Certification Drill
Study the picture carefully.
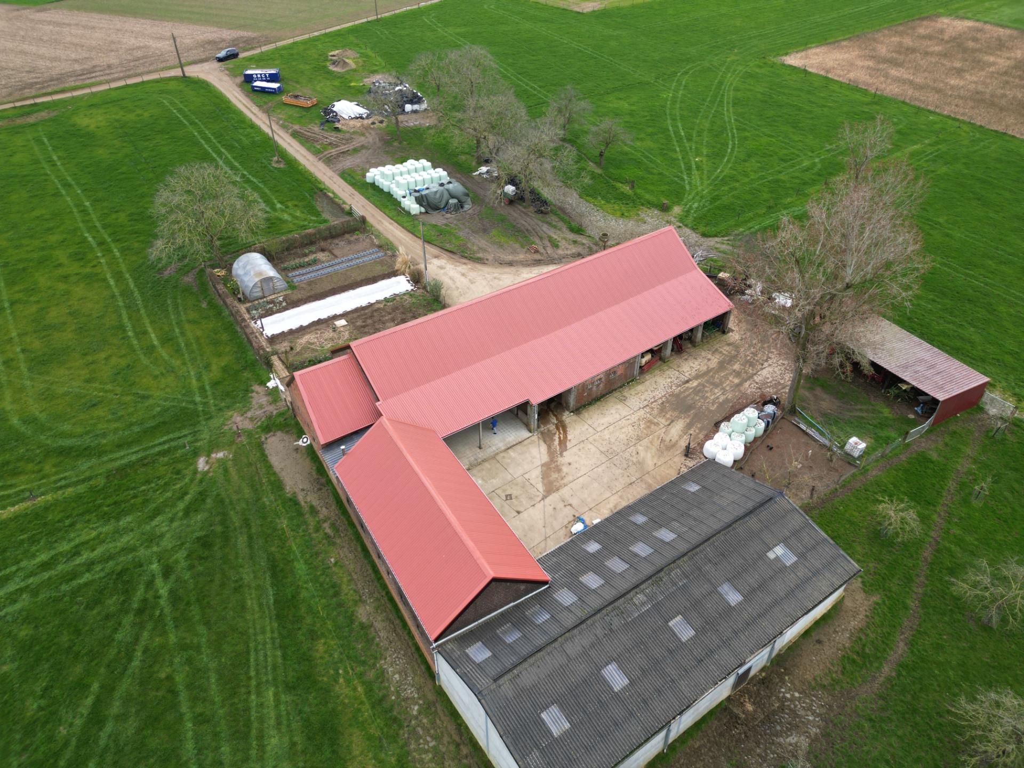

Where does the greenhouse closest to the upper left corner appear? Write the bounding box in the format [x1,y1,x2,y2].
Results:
[230,248,288,299]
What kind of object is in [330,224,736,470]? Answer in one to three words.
barn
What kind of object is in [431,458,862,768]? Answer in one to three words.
barn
